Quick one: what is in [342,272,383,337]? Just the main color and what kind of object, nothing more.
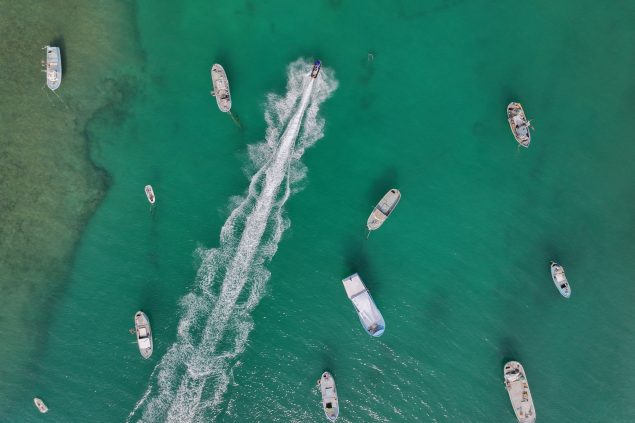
white boat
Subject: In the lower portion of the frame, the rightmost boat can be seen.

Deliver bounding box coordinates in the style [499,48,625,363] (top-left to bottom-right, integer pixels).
[549,260,572,299]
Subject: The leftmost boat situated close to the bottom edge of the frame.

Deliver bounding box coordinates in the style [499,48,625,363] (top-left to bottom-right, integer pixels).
[35,398,48,413]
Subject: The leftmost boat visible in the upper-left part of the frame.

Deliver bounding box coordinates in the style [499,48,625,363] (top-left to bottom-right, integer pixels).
[42,46,68,110]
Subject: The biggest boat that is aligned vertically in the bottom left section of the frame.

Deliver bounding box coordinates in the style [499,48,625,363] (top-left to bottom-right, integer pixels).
[130,311,153,359]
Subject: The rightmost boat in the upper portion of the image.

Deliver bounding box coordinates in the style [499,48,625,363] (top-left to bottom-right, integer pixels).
[507,101,535,153]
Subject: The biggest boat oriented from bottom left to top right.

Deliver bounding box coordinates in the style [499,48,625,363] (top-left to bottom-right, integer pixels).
[365,187,397,243]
